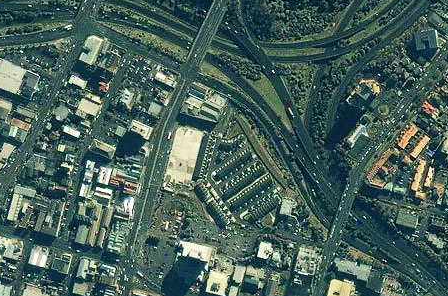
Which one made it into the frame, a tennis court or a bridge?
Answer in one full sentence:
Of the two, only a bridge appears.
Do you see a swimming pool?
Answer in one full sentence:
No, no swimming pool is visible in the view.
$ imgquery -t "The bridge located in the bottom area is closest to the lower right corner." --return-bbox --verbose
[325,167,363,250]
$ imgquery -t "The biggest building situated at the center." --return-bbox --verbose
[165,126,206,182]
